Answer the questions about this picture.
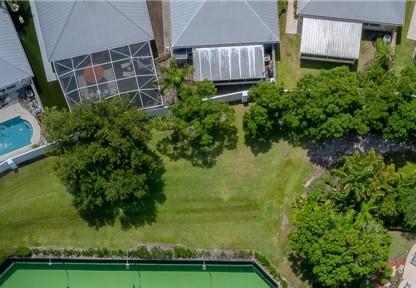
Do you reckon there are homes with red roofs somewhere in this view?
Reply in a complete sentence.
No, this view has no home with a red roof in it.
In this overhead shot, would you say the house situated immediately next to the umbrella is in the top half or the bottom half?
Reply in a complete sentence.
You can find the house situated immediately next to the umbrella in the top half.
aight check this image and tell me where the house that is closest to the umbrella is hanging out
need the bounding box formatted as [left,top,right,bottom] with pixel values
[35,0,154,67]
